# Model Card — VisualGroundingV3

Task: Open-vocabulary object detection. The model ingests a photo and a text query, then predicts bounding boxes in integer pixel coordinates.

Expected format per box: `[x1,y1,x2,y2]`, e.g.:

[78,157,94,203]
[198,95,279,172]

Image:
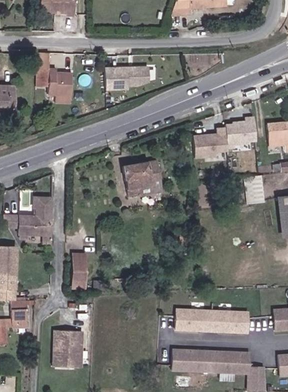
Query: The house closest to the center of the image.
[124,161,164,198]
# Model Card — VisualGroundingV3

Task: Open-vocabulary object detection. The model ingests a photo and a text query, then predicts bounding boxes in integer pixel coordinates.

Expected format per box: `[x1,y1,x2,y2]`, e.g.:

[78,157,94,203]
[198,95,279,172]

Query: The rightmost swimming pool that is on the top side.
[78,74,93,88]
